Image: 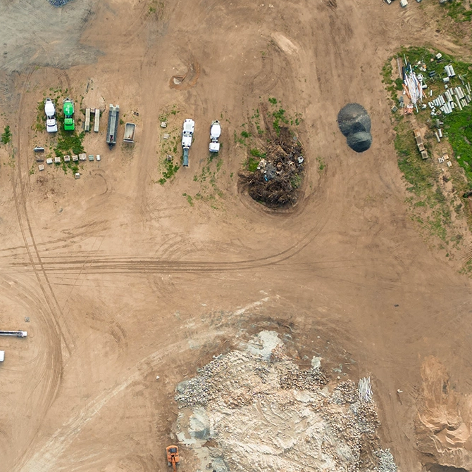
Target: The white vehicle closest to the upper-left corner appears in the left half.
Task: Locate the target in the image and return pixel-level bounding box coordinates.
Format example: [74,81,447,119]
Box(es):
[44,94,57,133]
